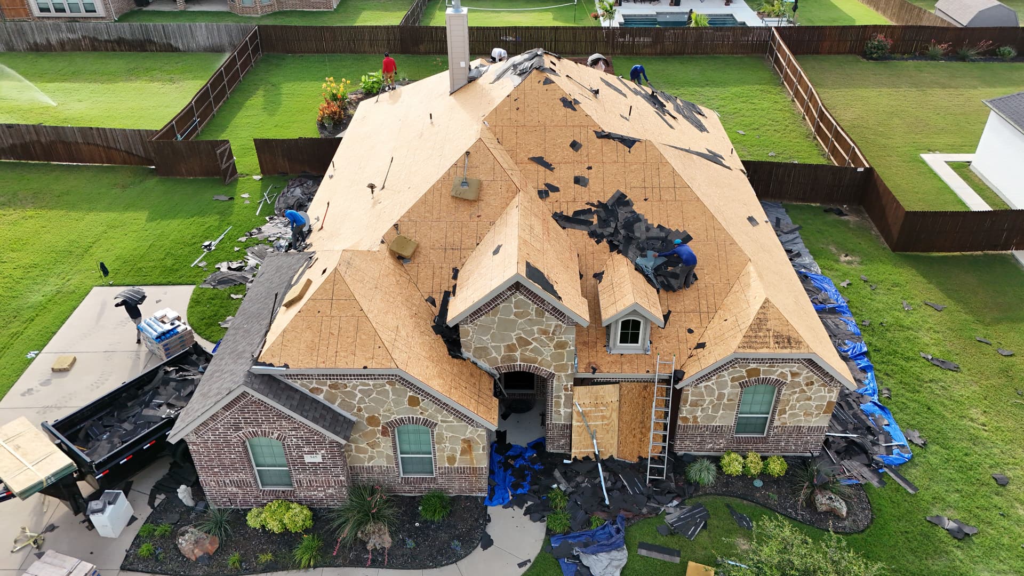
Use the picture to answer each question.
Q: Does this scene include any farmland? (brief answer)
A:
No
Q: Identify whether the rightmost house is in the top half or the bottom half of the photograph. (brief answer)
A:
top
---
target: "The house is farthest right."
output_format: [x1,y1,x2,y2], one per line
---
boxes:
[970,97,1024,204]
